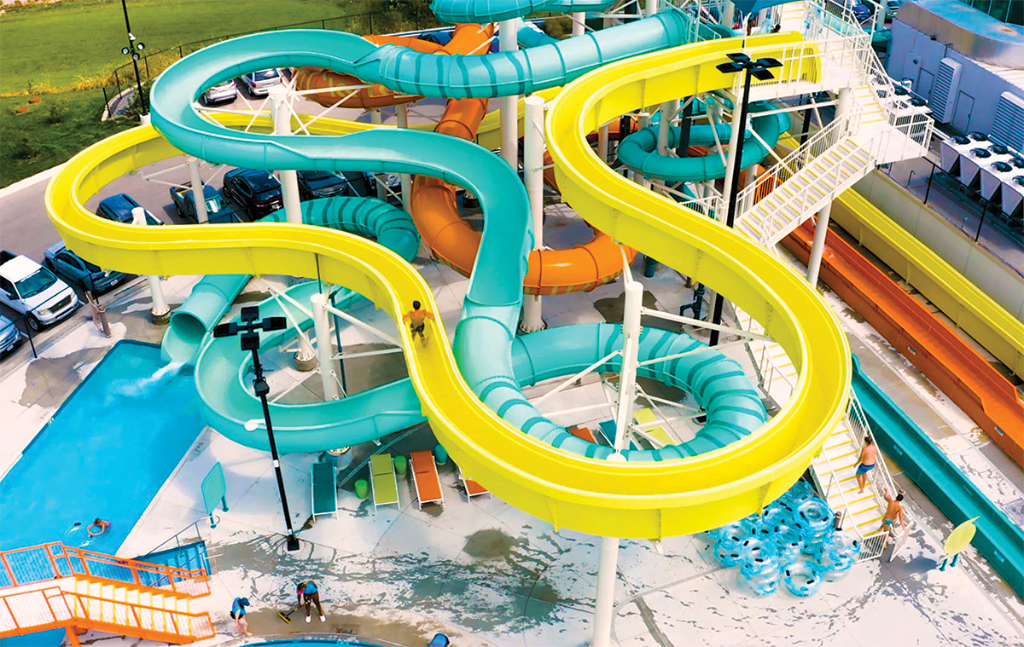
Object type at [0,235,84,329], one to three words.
truck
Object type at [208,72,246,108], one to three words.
car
